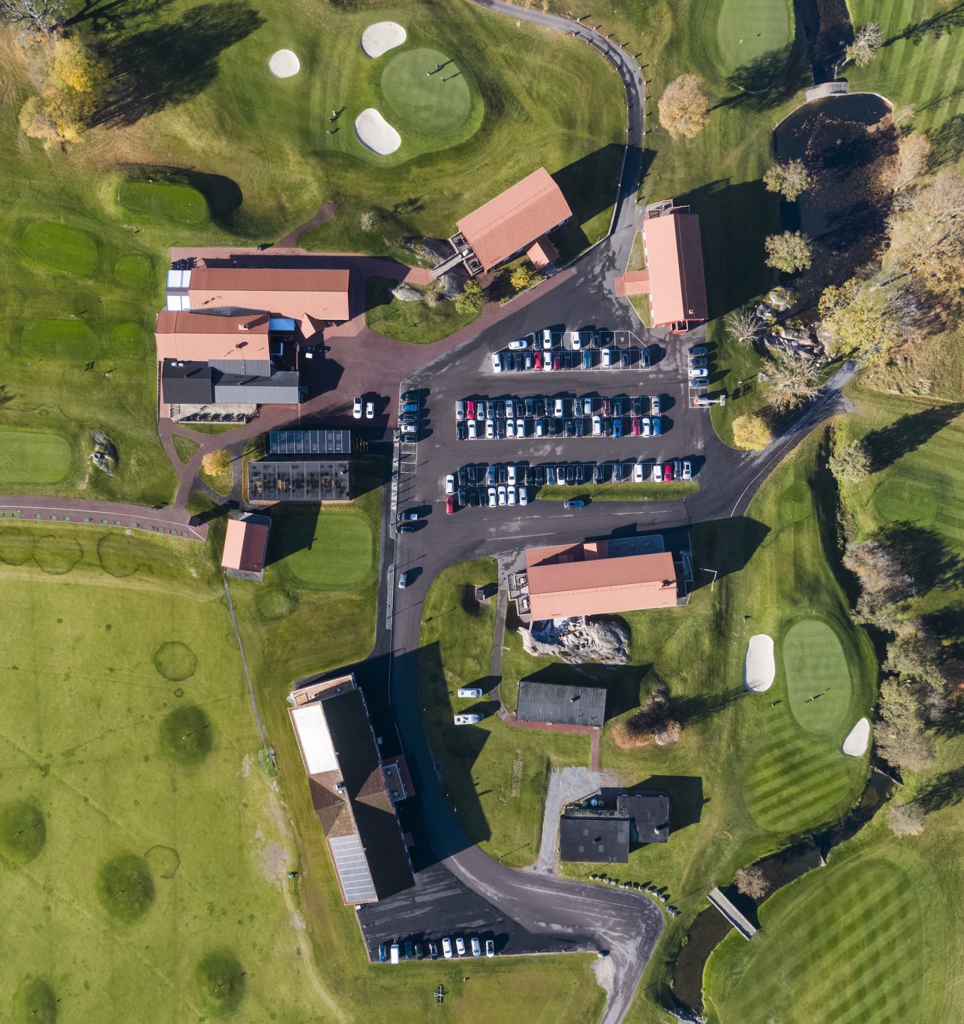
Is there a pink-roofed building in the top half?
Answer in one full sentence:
Yes, there is a pink-roofed building in the top half.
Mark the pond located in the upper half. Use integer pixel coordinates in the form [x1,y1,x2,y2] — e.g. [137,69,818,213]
[776,95,897,323]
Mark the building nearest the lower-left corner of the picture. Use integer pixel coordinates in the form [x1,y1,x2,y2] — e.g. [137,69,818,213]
[287,672,415,905]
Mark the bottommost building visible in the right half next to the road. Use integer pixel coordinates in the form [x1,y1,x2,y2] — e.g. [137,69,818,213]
[560,787,670,863]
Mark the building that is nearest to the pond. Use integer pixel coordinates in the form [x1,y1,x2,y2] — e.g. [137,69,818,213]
[623,199,709,337]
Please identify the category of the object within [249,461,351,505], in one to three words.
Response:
shed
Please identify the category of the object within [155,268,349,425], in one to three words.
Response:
building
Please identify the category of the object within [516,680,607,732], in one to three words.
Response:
house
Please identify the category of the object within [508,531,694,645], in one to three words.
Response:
house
